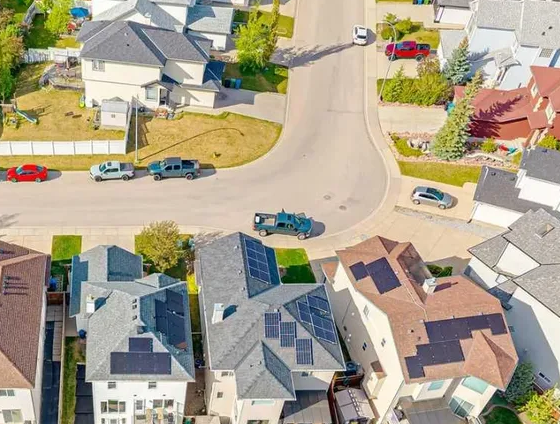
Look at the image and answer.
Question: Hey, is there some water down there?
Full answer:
No, there's no water in this view.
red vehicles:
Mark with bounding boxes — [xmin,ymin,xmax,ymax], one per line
[5,164,48,183]
[385,38,433,59]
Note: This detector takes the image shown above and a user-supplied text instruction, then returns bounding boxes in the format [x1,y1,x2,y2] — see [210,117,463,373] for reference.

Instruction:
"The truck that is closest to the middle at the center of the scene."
[252,210,314,238]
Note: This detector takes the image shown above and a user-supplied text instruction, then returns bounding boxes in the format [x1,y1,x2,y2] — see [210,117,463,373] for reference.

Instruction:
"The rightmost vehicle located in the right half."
[411,184,455,210]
